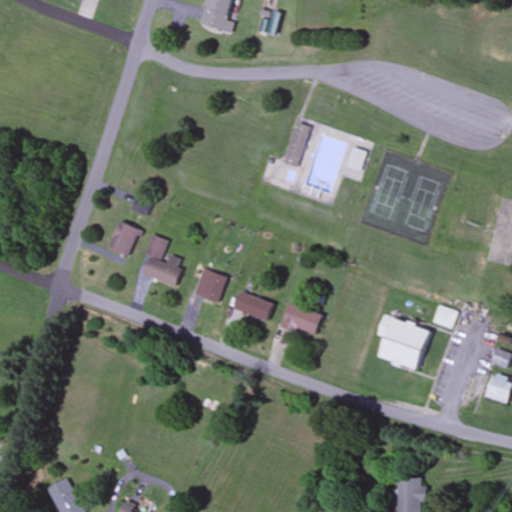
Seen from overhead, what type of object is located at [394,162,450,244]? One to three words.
tennis court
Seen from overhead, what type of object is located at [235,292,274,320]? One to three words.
house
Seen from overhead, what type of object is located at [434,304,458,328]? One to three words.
building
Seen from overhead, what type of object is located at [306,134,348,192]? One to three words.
swimming pool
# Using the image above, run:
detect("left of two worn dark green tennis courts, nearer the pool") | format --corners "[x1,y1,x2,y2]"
[362,150,419,233]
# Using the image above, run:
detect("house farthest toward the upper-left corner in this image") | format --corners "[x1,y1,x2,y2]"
[201,0,238,32]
